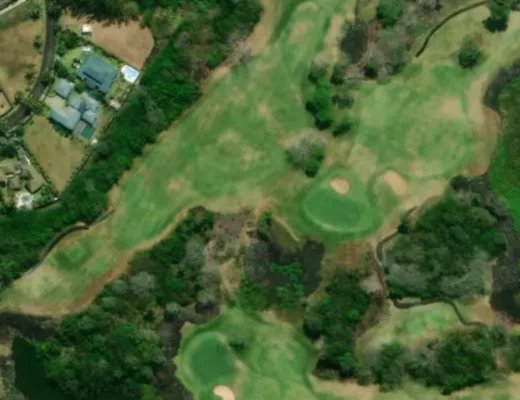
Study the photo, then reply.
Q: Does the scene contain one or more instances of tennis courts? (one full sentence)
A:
No, the picture doesn't show any tennis court.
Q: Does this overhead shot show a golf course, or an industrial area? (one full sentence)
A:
This image shows a golf course.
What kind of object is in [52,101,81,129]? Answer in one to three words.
house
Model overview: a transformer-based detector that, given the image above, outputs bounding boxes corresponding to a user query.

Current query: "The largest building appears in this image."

[76,53,117,93]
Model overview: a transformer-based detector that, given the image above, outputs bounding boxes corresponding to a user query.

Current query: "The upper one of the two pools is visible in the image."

[121,64,140,82]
